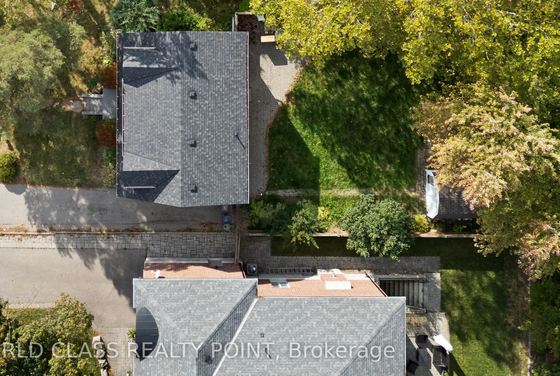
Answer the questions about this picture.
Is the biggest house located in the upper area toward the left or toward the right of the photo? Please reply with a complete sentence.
The biggest house located in the upper area is on the left side of the image.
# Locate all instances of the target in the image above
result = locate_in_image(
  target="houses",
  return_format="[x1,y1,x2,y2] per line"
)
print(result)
[83,30,251,207]
[131,256,408,376]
